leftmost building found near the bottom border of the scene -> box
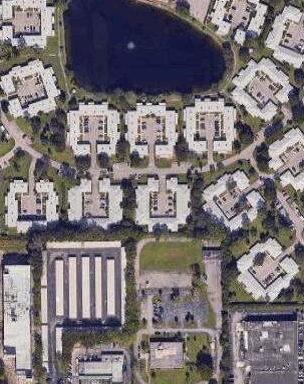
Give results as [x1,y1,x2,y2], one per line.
[2,265,32,377]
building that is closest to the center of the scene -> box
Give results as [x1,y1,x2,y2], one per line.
[135,173,189,233]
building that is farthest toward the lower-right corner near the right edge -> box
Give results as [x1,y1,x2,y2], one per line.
[243,321,297,384]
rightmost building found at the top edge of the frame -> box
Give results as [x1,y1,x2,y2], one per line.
[265,6,304,67]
